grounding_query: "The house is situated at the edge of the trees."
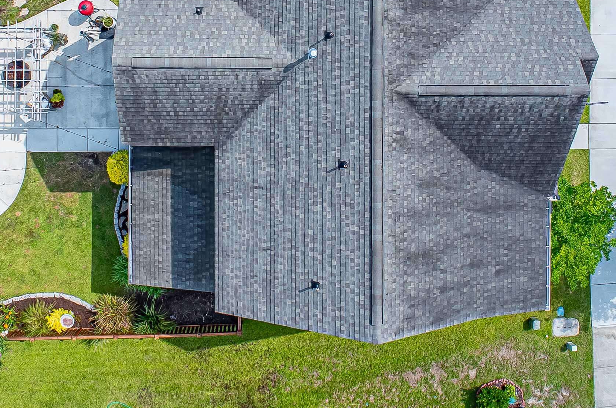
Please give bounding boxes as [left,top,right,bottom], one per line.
[112,0,609,345]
